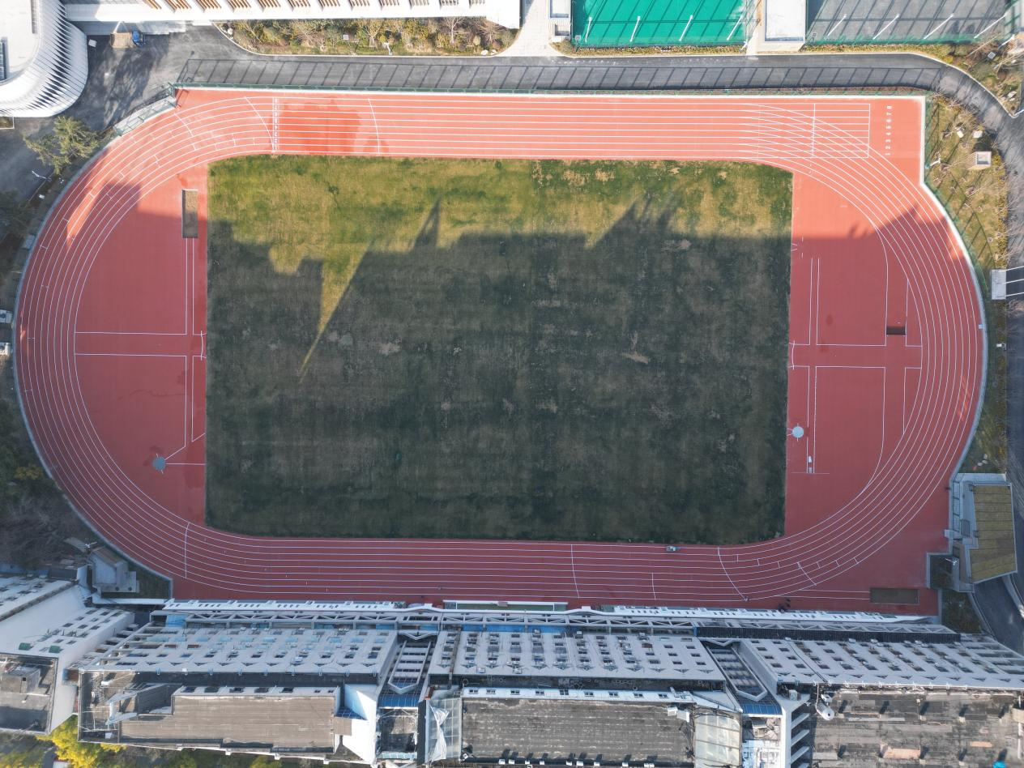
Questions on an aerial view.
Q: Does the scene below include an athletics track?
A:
Yes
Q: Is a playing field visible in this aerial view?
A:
Yes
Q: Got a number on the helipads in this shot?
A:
0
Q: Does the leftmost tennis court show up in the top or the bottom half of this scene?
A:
top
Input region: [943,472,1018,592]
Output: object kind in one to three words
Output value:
building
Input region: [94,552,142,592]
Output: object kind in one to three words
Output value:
house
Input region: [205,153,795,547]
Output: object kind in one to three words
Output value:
sports field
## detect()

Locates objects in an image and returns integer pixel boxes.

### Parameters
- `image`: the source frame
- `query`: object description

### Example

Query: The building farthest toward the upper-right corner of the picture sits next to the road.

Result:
[756,0,806,52]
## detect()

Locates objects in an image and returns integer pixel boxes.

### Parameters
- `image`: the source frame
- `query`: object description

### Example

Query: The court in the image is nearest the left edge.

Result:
[573,0,756,43]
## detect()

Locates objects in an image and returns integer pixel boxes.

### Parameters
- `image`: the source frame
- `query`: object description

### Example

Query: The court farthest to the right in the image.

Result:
[809,0,1008,44]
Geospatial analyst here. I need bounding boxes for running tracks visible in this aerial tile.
[12,86,988,626]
